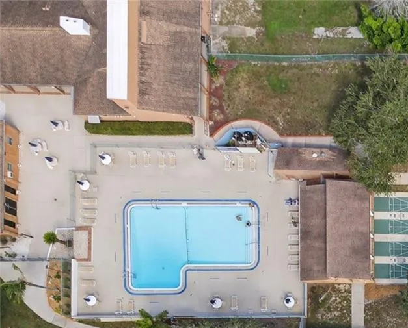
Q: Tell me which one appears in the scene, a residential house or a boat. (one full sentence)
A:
This aerial view contains a residential house.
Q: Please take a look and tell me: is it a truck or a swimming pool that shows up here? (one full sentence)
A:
There is a swimming pool in the scene.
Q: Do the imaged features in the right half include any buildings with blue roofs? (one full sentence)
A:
No, there's no building with a blue roof to be seen in the right half.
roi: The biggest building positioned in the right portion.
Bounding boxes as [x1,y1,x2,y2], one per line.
[299,179,375,284]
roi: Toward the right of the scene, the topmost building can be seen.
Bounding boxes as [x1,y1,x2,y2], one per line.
[275,148,352,180]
